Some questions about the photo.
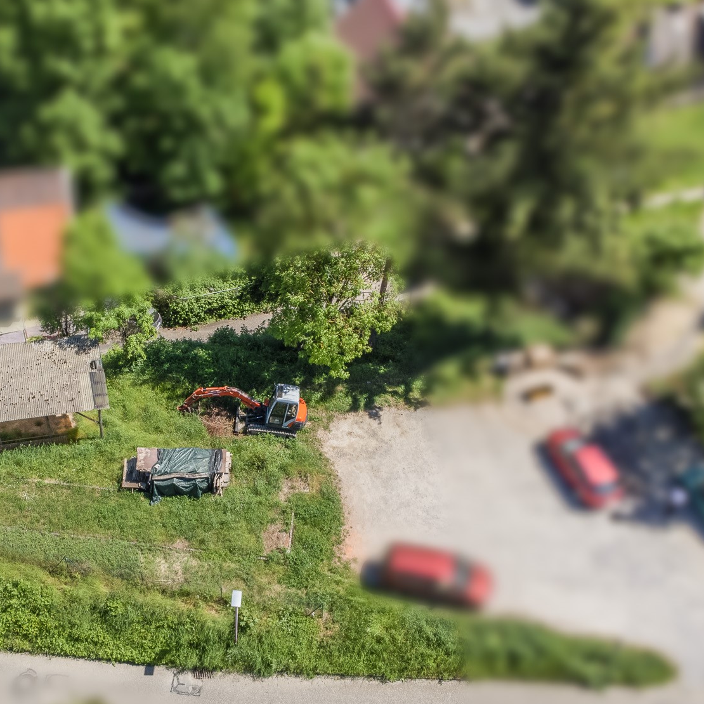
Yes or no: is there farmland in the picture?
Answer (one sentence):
No, there is no farmland in the image.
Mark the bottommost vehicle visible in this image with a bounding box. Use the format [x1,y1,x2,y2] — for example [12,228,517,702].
[375,538,497,615]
